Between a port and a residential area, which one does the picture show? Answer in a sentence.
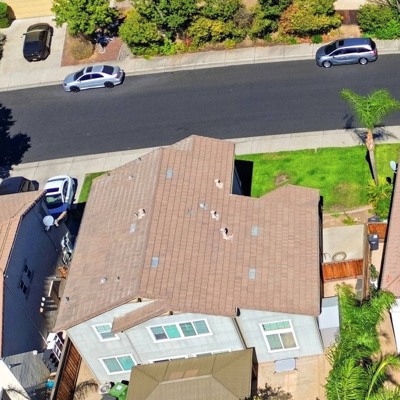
It's a residential area.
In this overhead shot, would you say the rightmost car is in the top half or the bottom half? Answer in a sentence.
The rightmost car is in the top half of the image.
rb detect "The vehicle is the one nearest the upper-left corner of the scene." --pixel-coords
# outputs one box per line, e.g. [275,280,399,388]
[19,21,53,57]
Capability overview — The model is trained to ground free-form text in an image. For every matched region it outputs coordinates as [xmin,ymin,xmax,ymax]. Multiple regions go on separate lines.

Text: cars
[0,165,42,192]
[45,174,79,225]
[61,64,127,94]
[315,38,378,71]
[19,21,53,57]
